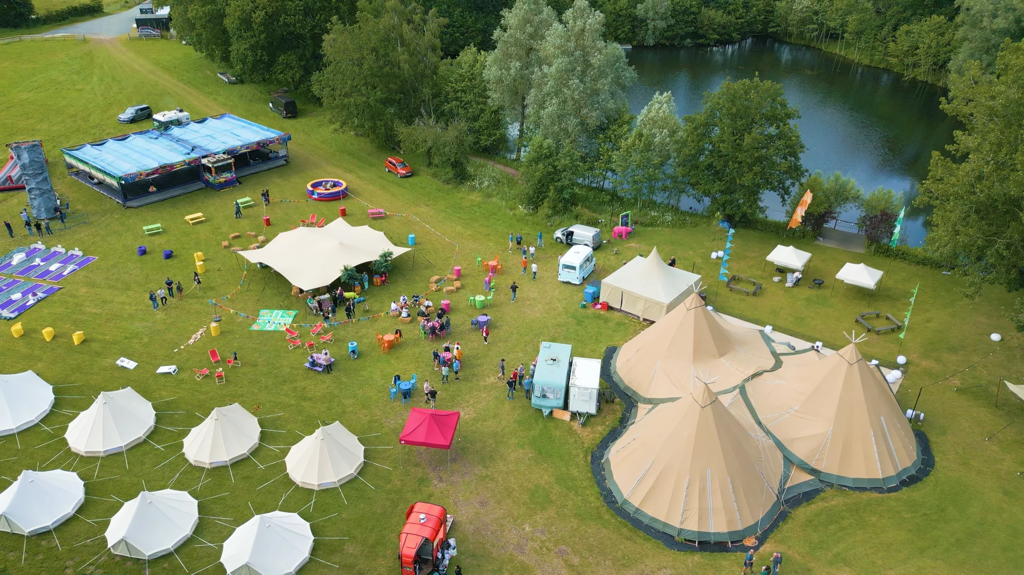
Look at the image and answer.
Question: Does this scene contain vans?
Yes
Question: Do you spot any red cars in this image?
Yes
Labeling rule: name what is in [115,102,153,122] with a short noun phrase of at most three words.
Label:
car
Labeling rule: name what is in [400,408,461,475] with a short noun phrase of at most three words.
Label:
gazebo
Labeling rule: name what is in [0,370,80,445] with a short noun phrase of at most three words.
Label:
tent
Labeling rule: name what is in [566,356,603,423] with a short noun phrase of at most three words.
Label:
trailer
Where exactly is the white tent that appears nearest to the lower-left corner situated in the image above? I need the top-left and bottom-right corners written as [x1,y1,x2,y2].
[0,457,123,558]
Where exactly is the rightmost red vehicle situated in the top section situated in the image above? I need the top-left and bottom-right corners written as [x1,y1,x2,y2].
[383,154,414,176]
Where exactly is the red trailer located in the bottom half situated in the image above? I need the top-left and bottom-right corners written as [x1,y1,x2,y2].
[390,505,465,575]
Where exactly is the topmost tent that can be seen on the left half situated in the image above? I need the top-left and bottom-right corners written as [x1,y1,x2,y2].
[216,218,441,338]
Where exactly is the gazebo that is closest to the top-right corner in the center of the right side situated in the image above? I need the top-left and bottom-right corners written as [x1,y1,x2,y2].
[830,263,883,310]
